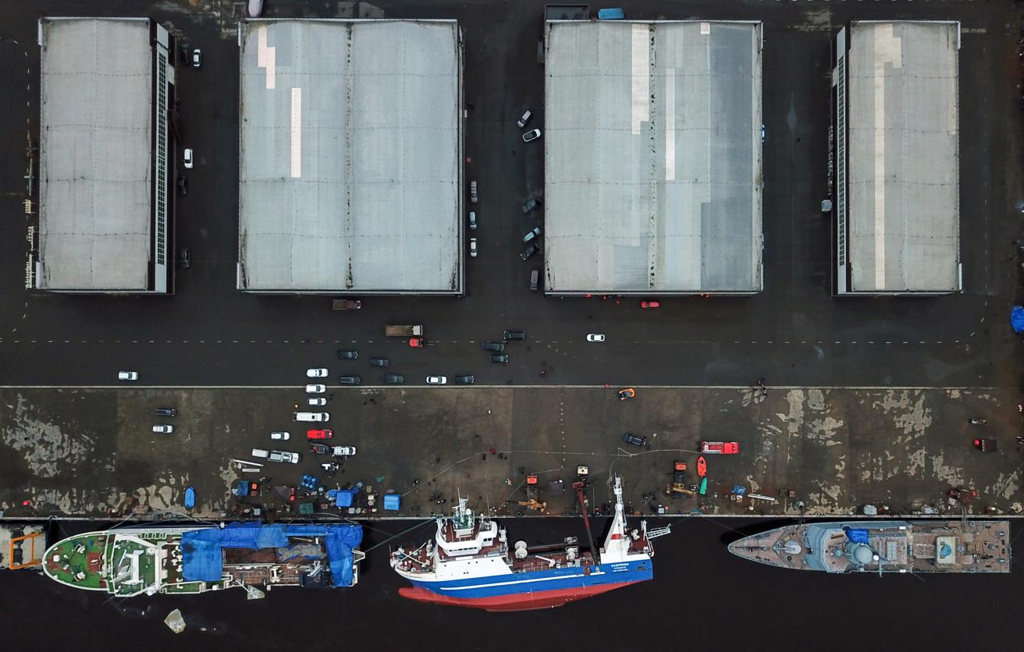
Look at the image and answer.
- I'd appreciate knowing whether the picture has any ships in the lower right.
Yes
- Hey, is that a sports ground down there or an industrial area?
industrial area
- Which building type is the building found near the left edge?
warehouse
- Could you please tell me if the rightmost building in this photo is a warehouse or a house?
warehouse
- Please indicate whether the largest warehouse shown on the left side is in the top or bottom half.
top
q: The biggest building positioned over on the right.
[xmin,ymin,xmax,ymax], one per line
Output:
[541,19,766,297]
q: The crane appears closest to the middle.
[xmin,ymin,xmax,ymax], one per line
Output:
[489,473,544,511]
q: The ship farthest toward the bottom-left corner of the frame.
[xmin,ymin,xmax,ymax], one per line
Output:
[0,524,48,570]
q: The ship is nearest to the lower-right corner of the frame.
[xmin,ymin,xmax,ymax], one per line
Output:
[729,520,1012,578]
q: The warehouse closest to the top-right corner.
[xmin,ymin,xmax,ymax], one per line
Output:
[828,19,965,297]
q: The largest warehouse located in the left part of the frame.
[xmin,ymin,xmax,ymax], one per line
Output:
[234,17,466,297]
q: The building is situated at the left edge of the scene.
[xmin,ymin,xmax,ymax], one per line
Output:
[32,16,177,295]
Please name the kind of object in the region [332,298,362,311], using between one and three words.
vehicle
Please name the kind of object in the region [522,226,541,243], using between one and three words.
car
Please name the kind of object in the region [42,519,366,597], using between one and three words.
vessel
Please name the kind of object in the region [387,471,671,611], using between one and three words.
vessel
